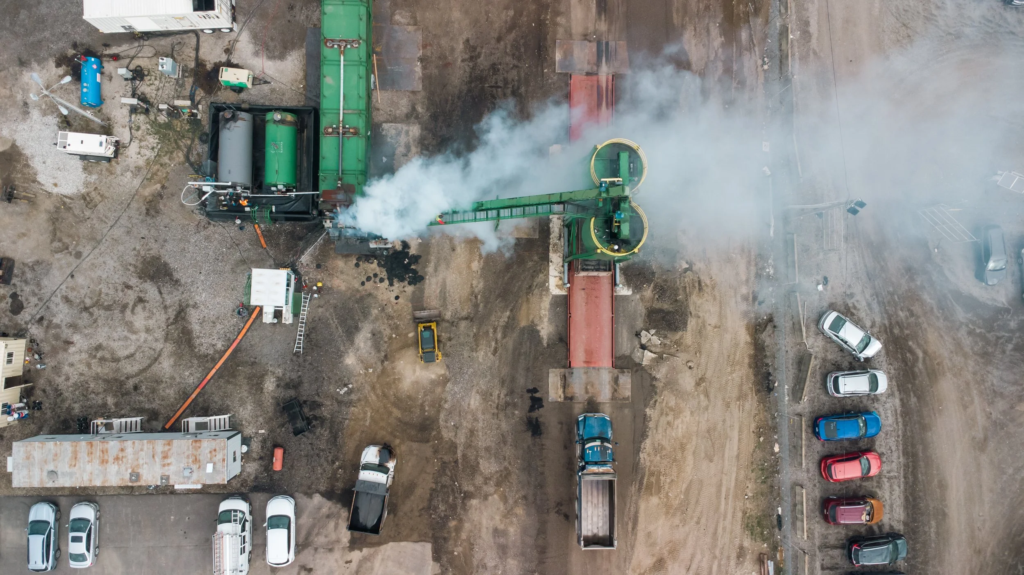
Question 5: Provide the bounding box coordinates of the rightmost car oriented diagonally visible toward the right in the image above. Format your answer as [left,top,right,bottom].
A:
[813,307,884,361]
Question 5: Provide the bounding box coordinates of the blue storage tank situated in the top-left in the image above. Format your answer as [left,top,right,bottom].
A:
[66,52,109,109]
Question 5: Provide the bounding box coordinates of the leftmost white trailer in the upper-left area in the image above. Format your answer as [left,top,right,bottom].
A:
[56,132,122,163]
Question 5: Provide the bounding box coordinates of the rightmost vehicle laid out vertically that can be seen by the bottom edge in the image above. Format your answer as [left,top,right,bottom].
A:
[572,409,617,553]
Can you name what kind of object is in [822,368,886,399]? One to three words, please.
car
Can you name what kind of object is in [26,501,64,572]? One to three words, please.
car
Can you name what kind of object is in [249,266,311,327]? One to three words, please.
building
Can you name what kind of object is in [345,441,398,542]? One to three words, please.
truck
